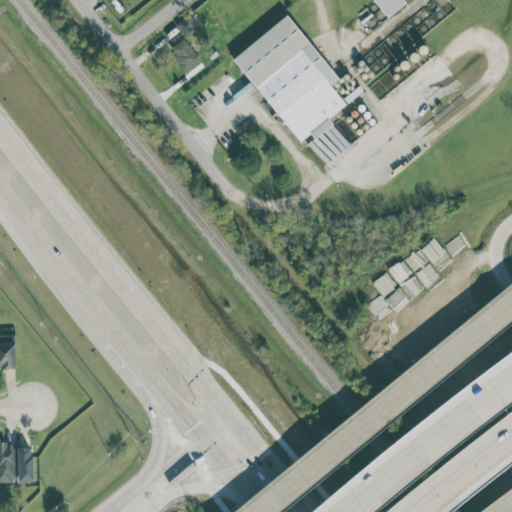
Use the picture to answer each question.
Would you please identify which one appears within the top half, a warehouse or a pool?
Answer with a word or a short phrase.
warehouse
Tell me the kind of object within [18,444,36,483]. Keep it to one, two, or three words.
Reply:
house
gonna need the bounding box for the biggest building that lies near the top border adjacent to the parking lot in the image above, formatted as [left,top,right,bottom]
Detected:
[233,15,348,142]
